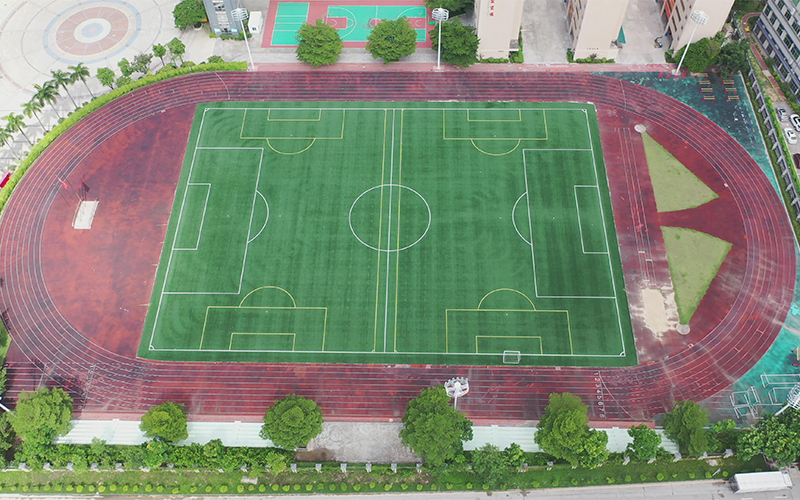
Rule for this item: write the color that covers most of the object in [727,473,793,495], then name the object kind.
white truck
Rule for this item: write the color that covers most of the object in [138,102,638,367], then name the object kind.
green soccer field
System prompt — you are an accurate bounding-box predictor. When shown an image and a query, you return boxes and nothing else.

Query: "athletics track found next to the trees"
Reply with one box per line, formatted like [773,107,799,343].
[0,73,796,421]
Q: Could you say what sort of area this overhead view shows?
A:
sports ground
